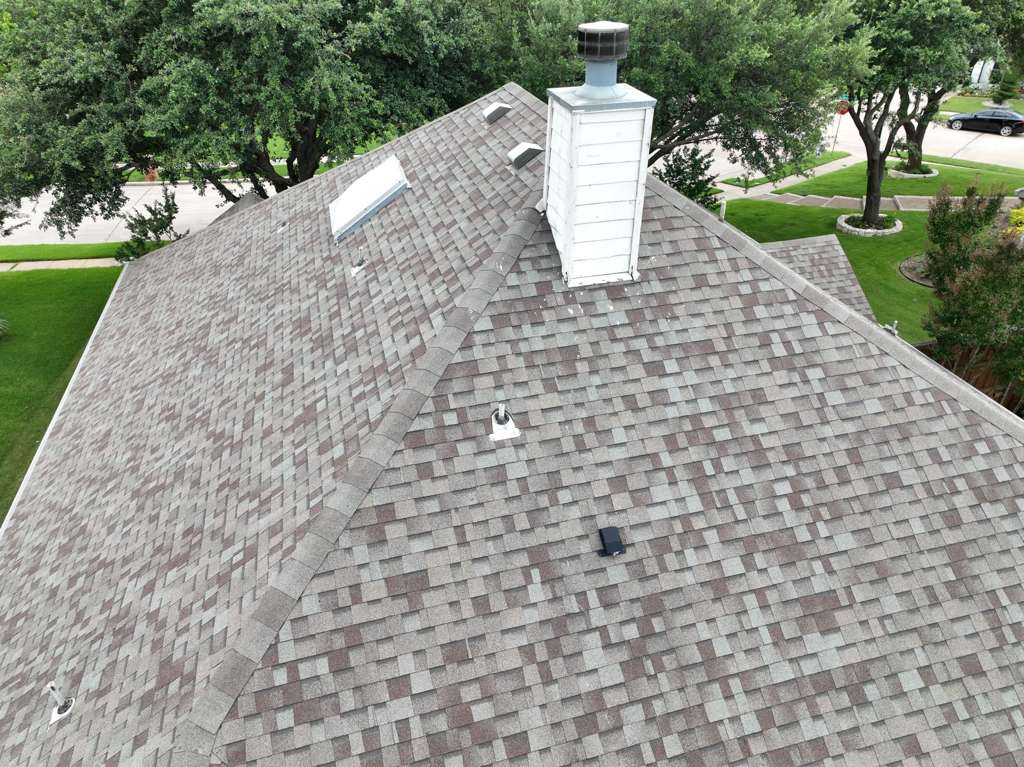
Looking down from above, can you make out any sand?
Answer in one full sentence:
No, sand can't be seen anywhere here.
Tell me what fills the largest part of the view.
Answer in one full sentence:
Most of the picture is covered by buildings.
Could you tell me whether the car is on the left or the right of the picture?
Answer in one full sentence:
You can find the car on the right side of the picture.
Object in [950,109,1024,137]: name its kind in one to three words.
car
